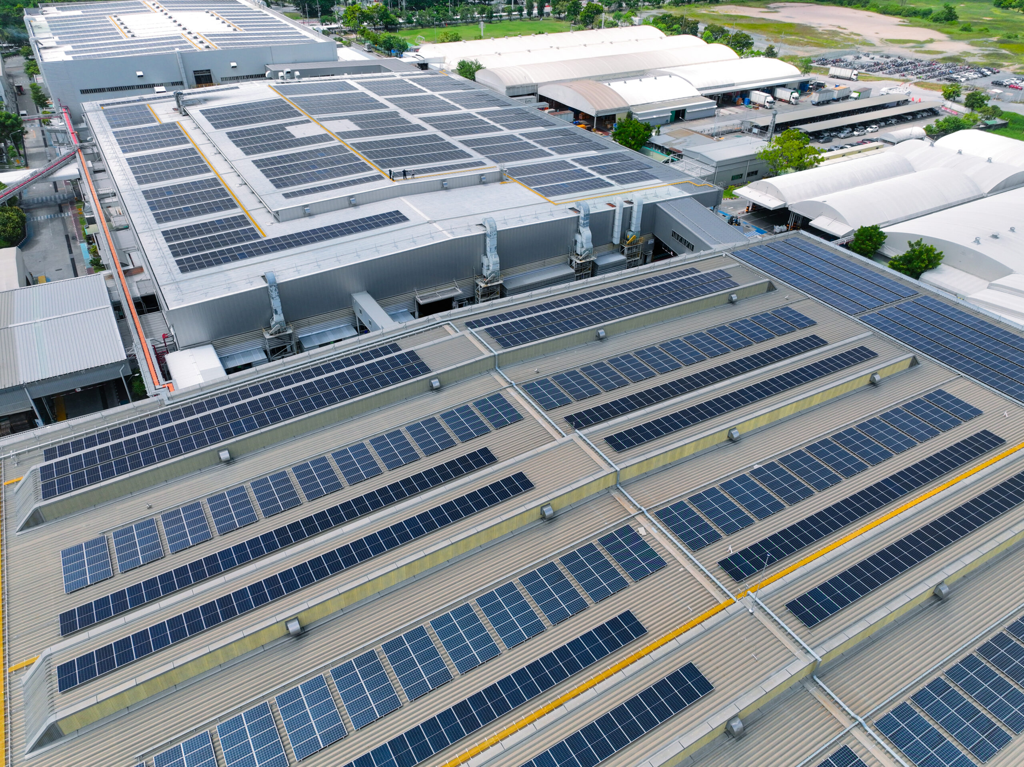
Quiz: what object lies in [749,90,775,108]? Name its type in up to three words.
vehicle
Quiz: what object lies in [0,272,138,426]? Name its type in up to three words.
shed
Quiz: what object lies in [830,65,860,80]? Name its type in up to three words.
vehicle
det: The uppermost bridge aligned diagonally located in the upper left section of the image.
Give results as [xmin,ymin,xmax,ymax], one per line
[0,145,81,202]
